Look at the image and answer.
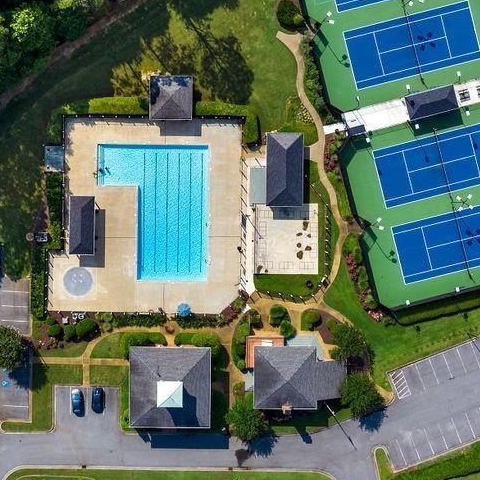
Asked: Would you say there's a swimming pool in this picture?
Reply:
Yes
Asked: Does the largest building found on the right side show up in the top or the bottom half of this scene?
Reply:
bottom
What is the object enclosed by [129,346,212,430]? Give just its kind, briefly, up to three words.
building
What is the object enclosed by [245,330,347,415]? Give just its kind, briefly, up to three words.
building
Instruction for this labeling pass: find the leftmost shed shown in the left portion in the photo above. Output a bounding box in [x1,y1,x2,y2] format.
[44,146,66,173]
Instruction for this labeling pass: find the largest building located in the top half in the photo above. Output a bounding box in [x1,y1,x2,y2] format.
[249,132,304,206]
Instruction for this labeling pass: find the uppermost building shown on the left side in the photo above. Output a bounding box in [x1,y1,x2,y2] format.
[149,76,193,120]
